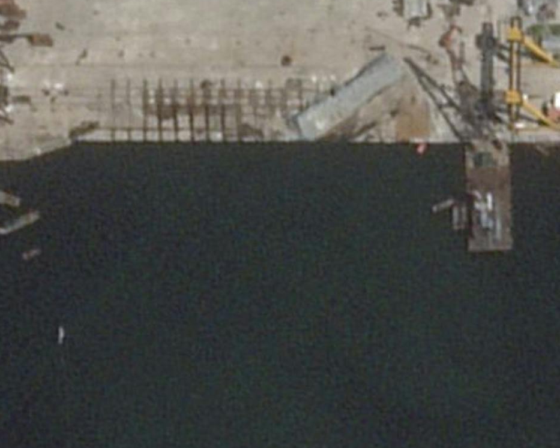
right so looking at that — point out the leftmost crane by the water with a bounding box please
[445,29,514,253]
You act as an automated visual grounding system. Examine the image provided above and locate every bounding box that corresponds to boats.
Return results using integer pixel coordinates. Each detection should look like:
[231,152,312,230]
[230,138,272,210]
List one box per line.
[417,143,424,153]
[0,193,22,210]
[452,205,457,230]
[461,206,466,229]
[57,326,63,345]
[0,209,41,231]
[22,249,41,260]
[433,199,455,211]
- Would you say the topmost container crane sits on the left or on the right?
right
